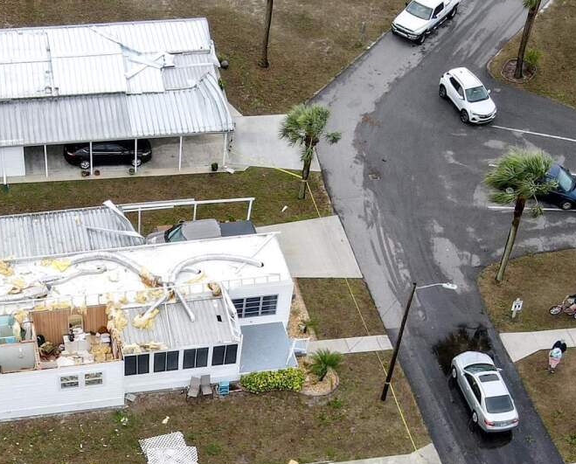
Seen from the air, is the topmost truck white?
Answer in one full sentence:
Yes, white is the color of the topmost truck.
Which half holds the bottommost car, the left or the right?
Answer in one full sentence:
The bottommost car sits on the right side.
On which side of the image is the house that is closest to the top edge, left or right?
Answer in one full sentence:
The house that is closest to the top edge appears in the left half of the scene.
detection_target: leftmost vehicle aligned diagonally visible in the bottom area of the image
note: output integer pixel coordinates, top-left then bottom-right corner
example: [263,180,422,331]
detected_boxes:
[447,352,522,438]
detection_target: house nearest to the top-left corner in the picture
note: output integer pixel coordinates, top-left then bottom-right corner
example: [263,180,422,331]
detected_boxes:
[0,16,234,191]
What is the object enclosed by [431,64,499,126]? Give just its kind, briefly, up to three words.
car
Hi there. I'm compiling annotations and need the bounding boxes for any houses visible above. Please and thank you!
[0,16,234,191]
[0,197,319,420]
